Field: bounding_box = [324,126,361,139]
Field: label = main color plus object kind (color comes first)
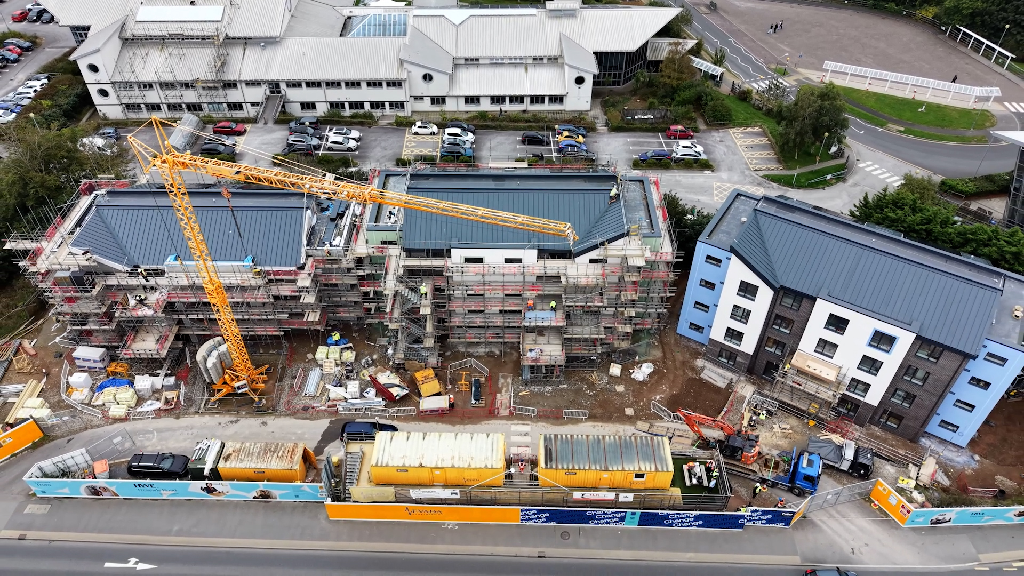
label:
white vehicle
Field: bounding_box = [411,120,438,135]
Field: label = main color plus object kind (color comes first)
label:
white car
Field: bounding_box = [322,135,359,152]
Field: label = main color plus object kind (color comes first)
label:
white car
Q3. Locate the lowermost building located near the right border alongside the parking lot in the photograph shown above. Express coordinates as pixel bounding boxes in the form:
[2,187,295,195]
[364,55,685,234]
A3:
[677,187,1024,447]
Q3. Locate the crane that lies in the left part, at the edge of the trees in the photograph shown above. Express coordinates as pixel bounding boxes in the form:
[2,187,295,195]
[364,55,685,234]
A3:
[125,113,587,408]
